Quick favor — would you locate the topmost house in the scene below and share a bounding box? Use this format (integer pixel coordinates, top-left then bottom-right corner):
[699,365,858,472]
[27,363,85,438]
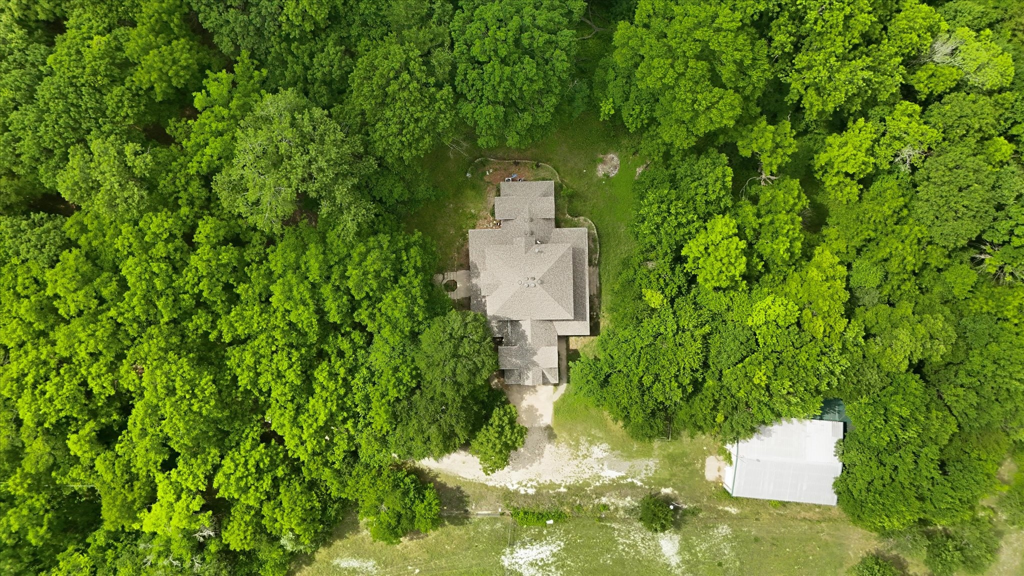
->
[468,181,590,386]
